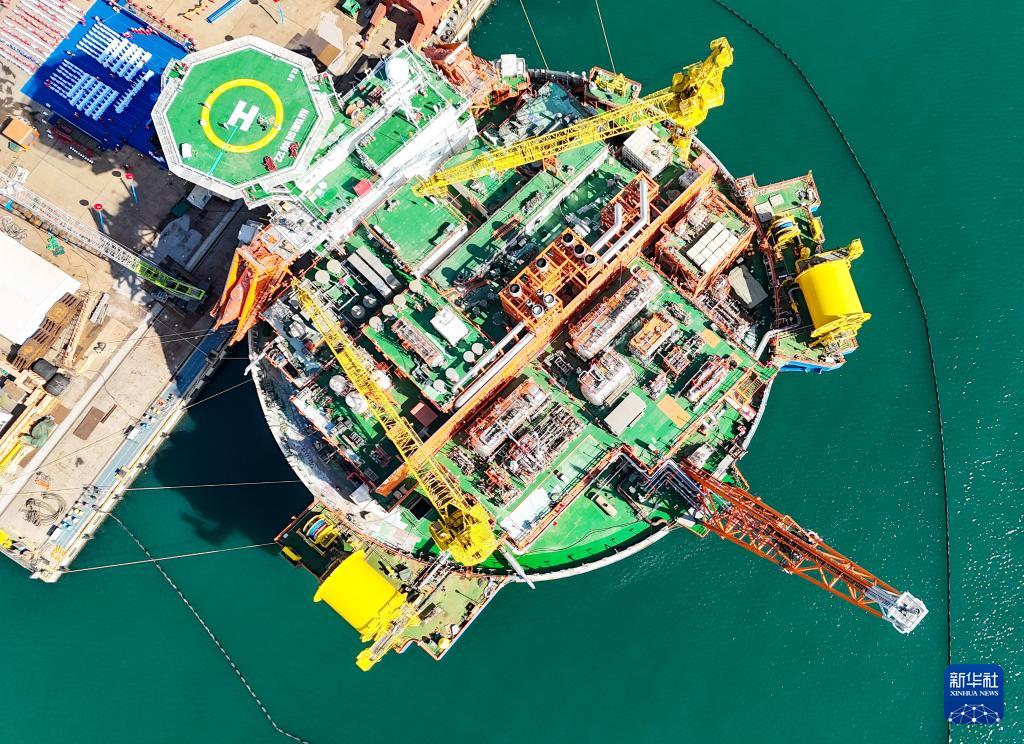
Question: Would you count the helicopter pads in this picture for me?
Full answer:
In total, there is 1 helicopter pad in the scene.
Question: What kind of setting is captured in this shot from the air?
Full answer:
The area seen from above is a port.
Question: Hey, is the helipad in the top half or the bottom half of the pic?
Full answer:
The helipad is in the top half of the image.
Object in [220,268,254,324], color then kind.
red boat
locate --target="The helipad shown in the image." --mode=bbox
[152,31,341,205]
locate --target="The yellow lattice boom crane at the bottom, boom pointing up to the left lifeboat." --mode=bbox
[288,273,502,572]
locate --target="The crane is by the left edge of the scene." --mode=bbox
[0,183,221,321]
